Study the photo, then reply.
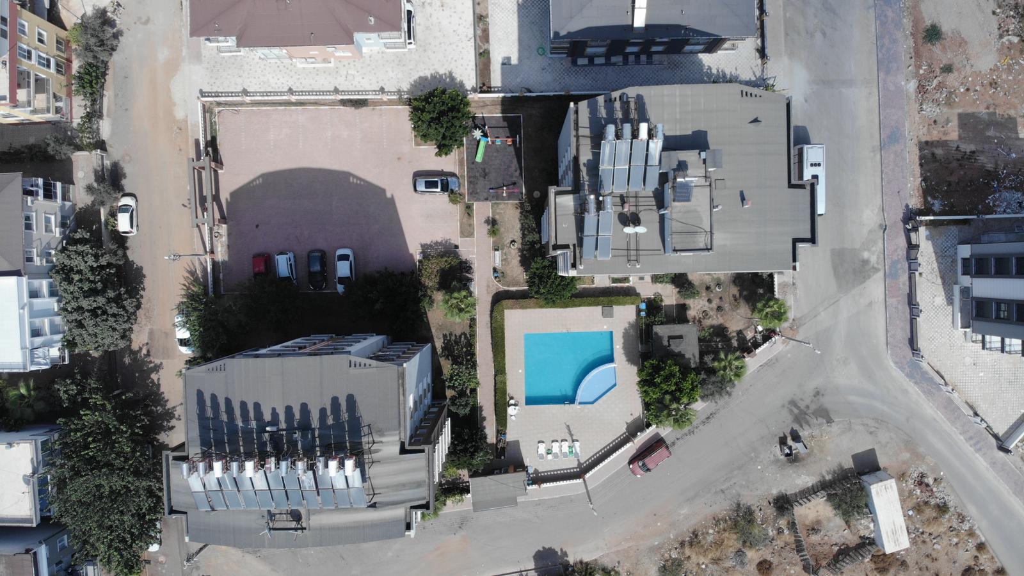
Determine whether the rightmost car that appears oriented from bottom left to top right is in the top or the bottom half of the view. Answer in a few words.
bottom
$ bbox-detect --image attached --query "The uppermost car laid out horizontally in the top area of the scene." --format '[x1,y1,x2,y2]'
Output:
[412,173,458,196]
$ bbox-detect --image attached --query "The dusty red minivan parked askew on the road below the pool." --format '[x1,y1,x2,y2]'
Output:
[626,440,673,478]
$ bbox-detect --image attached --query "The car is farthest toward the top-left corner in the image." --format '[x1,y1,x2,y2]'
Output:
[114,193,140,234]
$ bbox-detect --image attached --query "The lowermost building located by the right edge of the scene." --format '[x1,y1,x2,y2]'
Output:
[953,241,1024,356]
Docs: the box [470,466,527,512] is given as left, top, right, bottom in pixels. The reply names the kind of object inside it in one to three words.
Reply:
building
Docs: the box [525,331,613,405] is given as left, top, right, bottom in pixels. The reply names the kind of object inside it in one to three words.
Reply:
swimming pool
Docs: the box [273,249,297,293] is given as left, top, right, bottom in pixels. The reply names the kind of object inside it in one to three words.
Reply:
car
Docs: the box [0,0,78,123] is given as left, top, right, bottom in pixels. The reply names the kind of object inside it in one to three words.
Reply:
house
